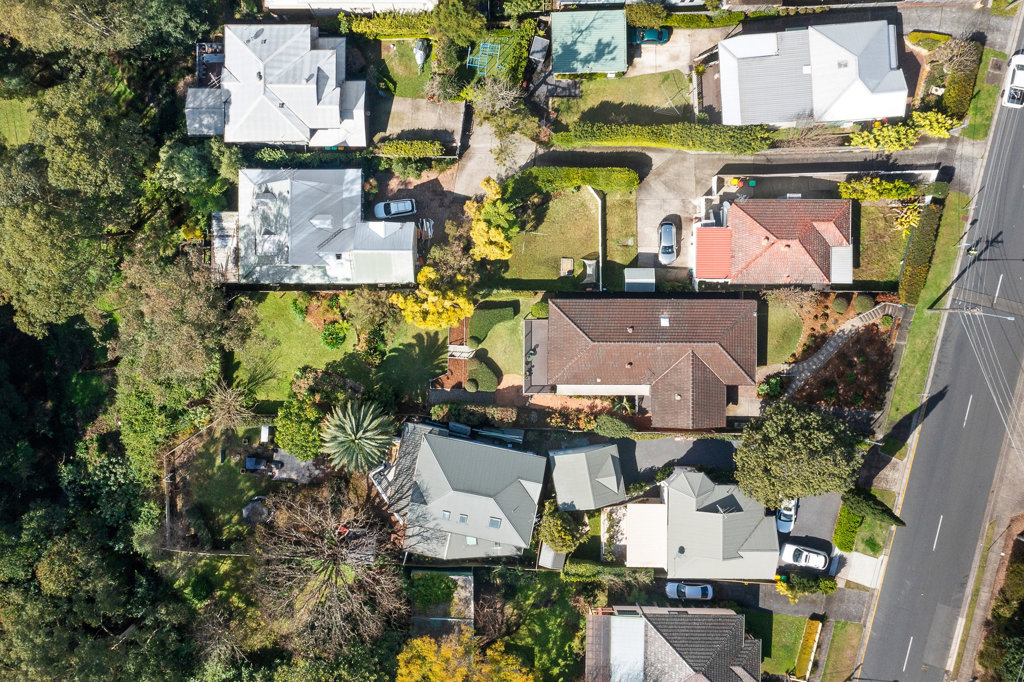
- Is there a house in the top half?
Yes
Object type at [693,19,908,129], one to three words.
house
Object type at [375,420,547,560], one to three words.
house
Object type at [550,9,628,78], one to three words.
building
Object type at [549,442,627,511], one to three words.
building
